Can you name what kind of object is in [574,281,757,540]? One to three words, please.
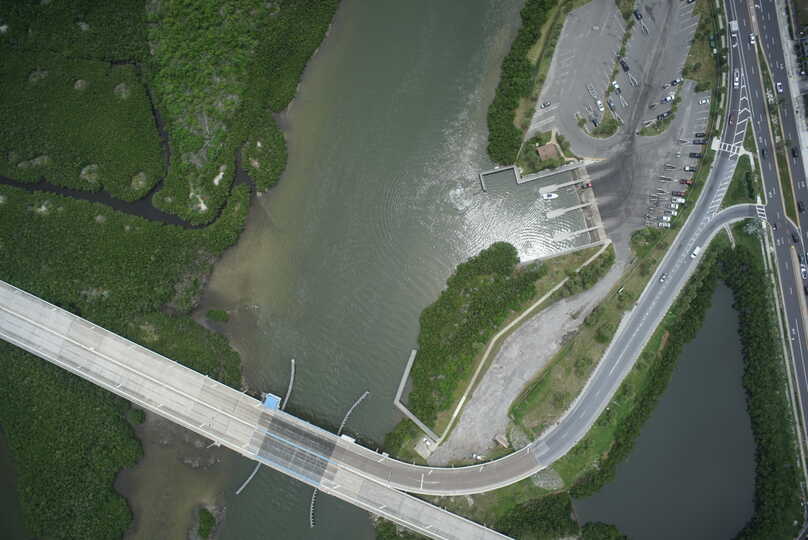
pond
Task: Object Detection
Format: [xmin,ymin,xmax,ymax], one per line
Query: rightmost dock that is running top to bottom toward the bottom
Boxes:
[395,348,439,443]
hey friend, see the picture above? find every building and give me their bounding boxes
[539,141,559,159]
[264,391,282,410]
